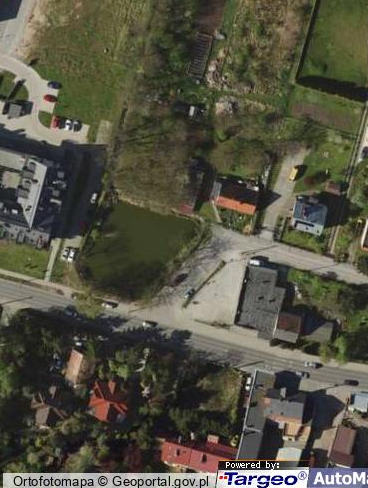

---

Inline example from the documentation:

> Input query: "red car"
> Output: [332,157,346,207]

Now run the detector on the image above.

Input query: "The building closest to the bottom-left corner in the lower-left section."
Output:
[31,392,65,424]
